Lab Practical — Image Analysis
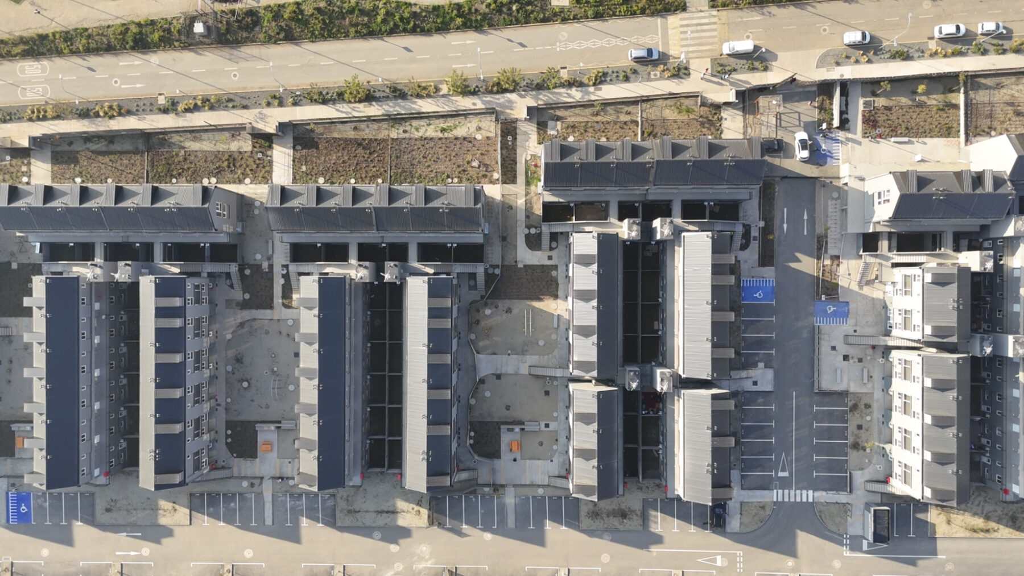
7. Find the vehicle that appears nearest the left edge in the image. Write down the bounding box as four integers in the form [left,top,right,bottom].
[628,47,658,62]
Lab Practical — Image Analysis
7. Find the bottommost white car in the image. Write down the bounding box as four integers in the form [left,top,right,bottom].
[794,132,809,161]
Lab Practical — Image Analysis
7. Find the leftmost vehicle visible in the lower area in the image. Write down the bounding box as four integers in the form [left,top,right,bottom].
[712,502,727,533]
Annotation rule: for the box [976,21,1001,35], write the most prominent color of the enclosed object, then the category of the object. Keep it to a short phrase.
white car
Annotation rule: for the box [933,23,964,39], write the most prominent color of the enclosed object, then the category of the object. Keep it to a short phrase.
white car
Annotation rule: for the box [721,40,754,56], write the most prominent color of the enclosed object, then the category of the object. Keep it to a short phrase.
white vehicle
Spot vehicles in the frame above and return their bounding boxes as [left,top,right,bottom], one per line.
[933,23,964,39]
[976,21,1001,35]
[841,30,869,46]
[712,502,727,533]
[721,40,754,56]
[794,132,809,161]
[763,138,785,152]
[628,47,658,62]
